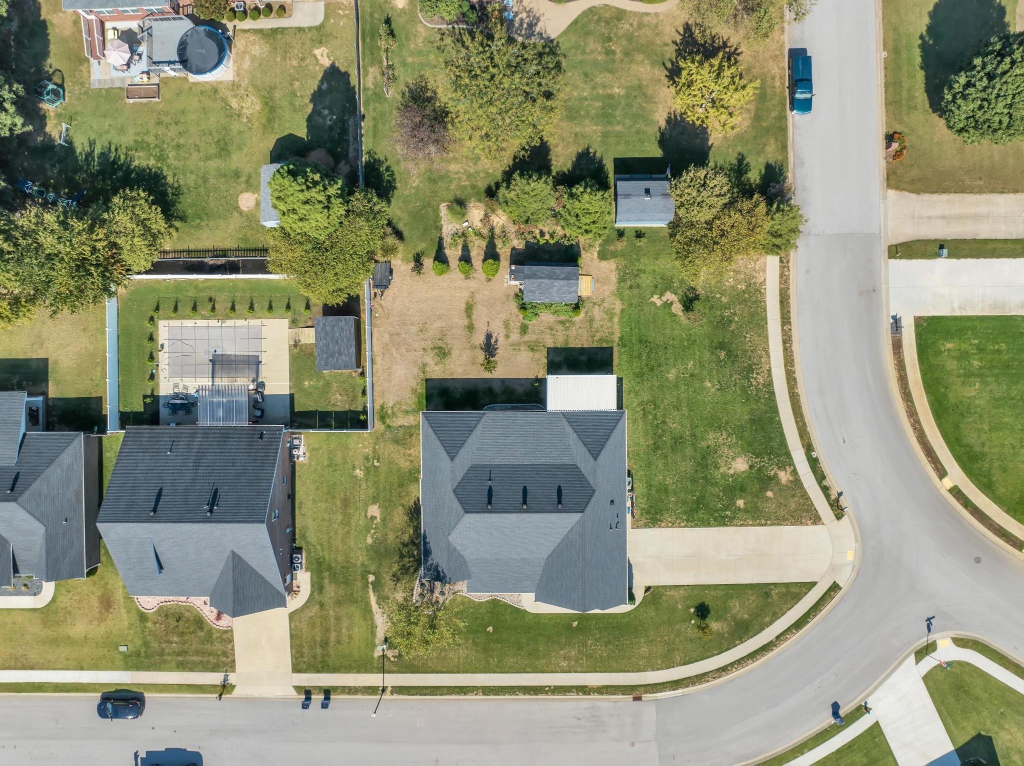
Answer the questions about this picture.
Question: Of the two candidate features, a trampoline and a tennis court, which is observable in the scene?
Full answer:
I can see a trampoline in this picture.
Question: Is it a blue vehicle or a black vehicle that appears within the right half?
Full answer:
The feature located within the right half is a blue vehicle.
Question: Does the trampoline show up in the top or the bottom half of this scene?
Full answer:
The trampoline sits in the top half of the picture.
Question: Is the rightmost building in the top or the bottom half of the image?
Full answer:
The rightmost building is in the top half of the image.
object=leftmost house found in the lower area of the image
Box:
[0,391,105,589]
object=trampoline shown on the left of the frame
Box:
[27,74,65,105]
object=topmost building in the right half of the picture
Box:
[613,177,673,228]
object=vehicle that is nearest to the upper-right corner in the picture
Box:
[789,57,816,119]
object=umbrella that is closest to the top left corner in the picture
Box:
[104,40,130,67]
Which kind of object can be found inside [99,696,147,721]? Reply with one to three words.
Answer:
car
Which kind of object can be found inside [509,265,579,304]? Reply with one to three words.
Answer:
shed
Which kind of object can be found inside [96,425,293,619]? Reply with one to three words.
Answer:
house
